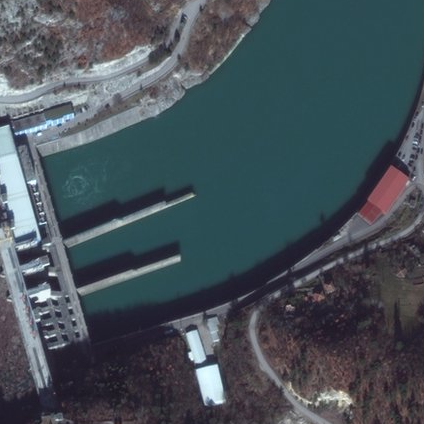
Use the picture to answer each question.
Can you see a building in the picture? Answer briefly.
Yes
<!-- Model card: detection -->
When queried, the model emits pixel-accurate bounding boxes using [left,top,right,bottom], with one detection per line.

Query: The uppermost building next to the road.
[11,101,74,137]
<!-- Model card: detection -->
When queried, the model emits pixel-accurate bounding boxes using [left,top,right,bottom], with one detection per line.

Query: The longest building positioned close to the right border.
[357,166,410,227]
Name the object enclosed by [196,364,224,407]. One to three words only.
building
